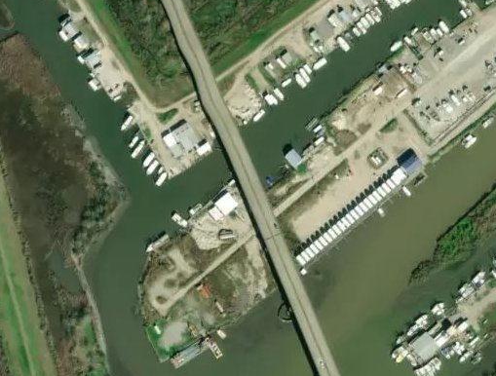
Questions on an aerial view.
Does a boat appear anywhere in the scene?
Yes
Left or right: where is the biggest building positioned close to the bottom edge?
right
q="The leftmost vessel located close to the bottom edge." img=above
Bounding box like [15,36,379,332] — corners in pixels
[169,338,211,367]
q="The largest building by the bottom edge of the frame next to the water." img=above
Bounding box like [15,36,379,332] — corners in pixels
[411,334,438,360]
